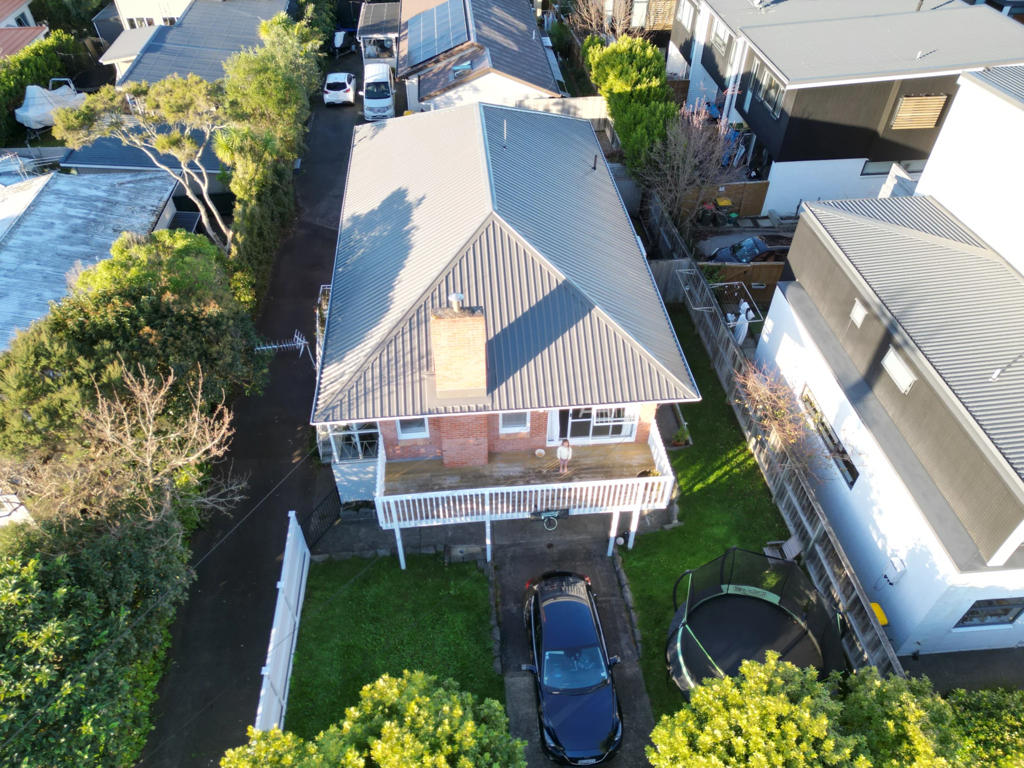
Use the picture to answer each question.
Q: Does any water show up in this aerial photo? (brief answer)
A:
No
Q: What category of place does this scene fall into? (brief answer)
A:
residential area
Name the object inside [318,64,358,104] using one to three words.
car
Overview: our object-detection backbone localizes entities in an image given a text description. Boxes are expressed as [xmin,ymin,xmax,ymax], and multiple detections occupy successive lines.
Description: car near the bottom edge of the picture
[522,563,627,768]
